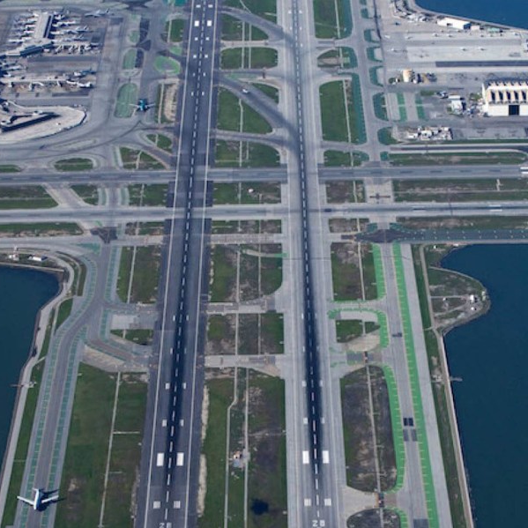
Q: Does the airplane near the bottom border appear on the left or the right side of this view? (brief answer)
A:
left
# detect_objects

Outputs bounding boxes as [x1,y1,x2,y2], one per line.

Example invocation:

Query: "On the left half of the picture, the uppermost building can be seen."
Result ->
[24,12,63,39]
